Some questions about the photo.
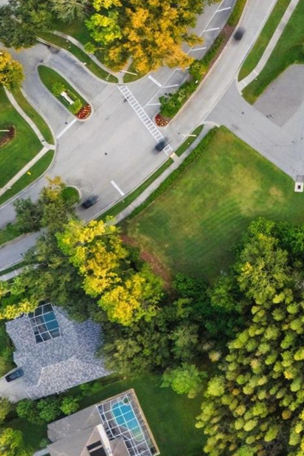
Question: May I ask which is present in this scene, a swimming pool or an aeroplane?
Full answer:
There is a swimming pool in the scene.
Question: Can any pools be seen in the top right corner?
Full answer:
No, no pool appears in the top right corner.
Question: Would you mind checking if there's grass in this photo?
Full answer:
Yes, some grass is visible.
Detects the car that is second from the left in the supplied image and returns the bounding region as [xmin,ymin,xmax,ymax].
[80,194,99,209]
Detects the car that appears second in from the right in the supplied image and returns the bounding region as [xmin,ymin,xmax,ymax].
[150,137,169,154]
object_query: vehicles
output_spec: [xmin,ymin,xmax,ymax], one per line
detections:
[150,137,169,154]
[3,366,24,381]
[80,194,99,209]
[231,25,246,43]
